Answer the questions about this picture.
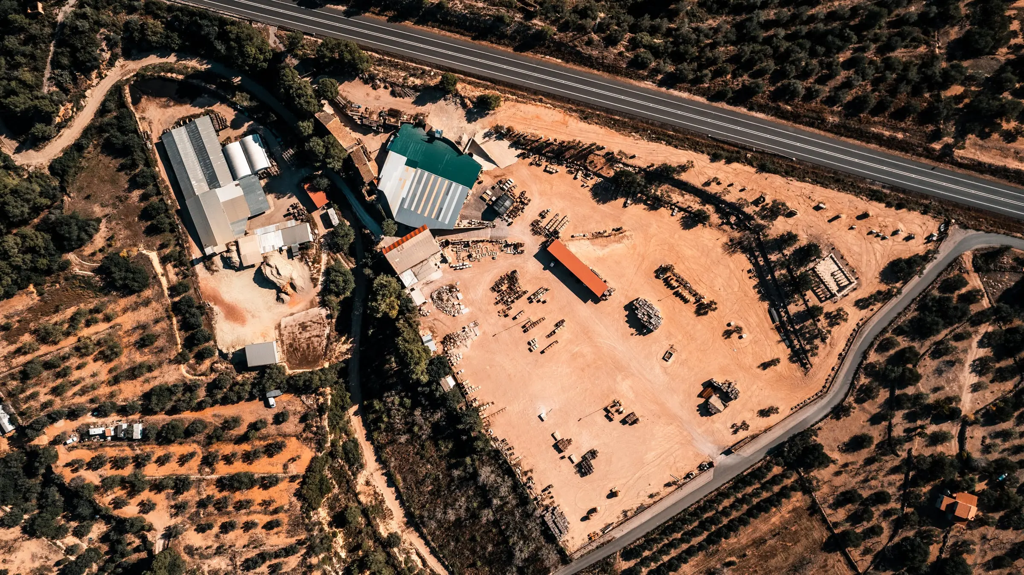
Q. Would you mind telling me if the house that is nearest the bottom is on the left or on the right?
right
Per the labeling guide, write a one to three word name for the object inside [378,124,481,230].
building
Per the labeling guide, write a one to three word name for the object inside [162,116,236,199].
shed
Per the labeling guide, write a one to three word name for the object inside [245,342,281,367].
barn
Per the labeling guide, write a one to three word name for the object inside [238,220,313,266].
shed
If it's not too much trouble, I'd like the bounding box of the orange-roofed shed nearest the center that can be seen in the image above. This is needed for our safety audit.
[547,240,608,297]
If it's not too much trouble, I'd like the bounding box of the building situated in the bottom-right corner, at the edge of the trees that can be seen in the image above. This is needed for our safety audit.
[935,490,978,526]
